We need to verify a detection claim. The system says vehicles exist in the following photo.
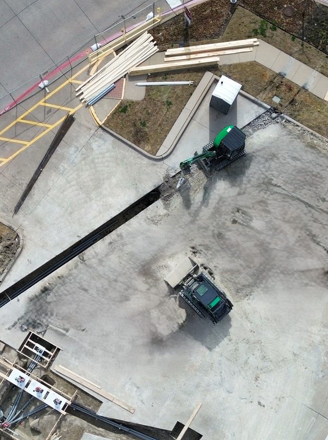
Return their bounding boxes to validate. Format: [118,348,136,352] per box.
[180,129,250,178]
[163,256,235,323]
